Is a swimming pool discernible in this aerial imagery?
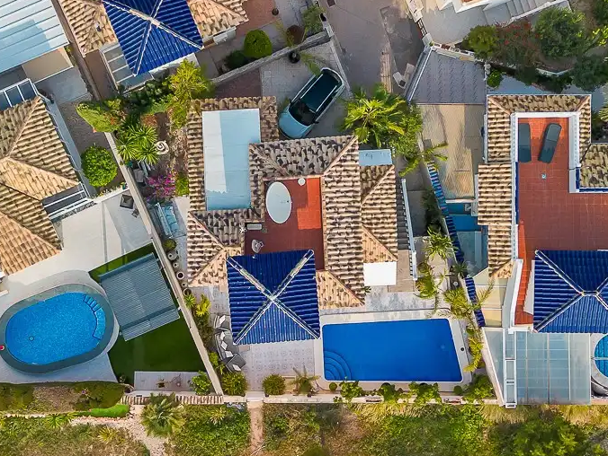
Yes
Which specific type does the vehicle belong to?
automobile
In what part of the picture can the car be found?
top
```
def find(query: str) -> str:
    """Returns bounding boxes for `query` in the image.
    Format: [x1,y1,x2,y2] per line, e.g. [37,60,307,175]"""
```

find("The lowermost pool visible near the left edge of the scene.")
[0,278,122,378]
